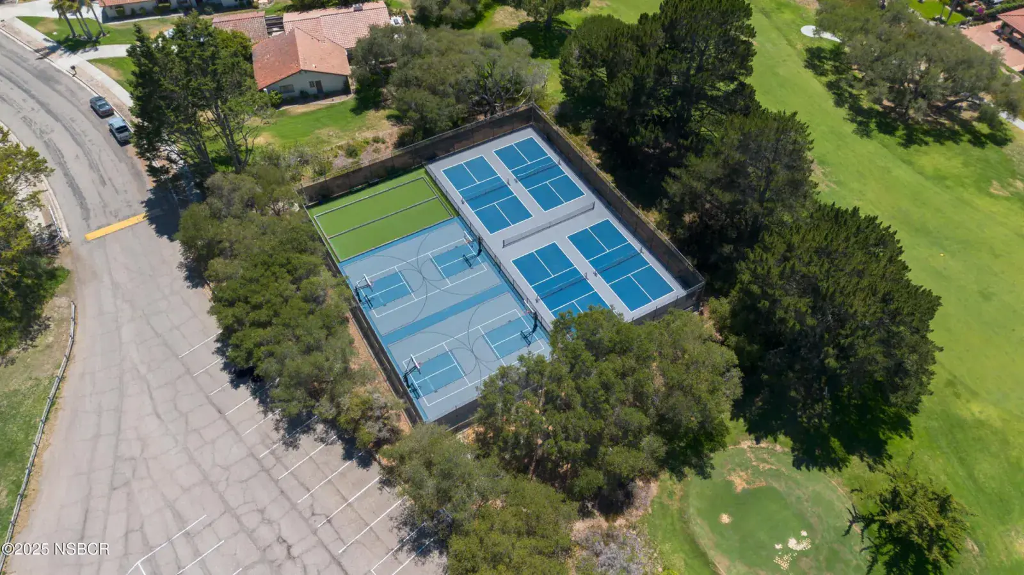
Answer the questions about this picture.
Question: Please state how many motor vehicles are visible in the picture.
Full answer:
The count of motor vehicles comes to 2.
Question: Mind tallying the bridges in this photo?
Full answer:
Not a single bridge can be seen.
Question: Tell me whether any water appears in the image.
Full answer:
No, there is no water in the image.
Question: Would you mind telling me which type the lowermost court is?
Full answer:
I'd say the lowermost court is a basketball court.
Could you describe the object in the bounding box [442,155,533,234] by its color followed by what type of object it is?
blue sports court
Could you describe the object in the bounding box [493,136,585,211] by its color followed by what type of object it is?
blue sports court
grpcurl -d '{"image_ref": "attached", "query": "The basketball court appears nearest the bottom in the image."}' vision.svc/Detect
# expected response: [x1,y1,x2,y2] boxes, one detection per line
[388,291,553,414]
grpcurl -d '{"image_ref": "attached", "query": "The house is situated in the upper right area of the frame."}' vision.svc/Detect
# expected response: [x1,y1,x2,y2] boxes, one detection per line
[992,9,1024,45]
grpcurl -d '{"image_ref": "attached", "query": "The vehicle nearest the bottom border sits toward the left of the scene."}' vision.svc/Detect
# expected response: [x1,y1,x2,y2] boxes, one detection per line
[103,114,134,142]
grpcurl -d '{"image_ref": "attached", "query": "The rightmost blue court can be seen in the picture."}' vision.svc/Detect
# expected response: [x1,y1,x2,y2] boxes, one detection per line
[567,218,675,312]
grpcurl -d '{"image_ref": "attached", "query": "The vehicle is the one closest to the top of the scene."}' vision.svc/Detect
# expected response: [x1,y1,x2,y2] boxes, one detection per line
[87,94,112,115]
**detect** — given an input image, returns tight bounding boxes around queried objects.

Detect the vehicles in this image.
[103,114,134,142]
[87,94,112,115]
